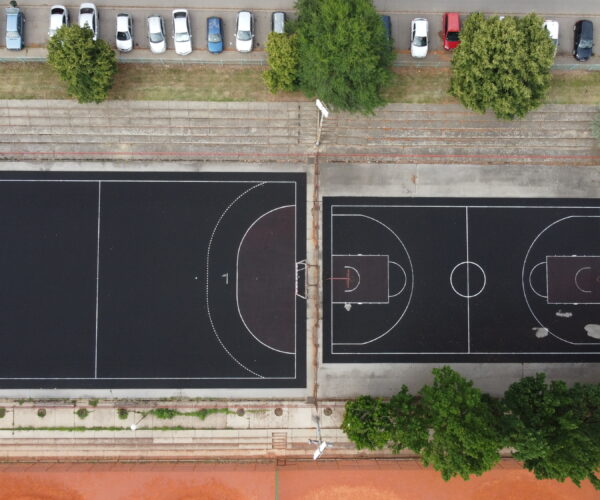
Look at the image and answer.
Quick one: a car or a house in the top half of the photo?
car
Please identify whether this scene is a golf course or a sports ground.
sports ground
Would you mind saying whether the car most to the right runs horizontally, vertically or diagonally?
vertically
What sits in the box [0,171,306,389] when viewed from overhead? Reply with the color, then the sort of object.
black sports court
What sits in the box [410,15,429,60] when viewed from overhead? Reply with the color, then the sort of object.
white car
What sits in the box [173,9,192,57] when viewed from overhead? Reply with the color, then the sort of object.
white car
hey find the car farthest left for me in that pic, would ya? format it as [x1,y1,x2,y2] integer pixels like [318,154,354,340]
[4,3,27,52]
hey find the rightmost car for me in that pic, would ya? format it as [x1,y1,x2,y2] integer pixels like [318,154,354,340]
[572,18,595,63]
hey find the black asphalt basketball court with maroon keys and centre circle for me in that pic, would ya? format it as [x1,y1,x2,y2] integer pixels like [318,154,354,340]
[323,196,600,363]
